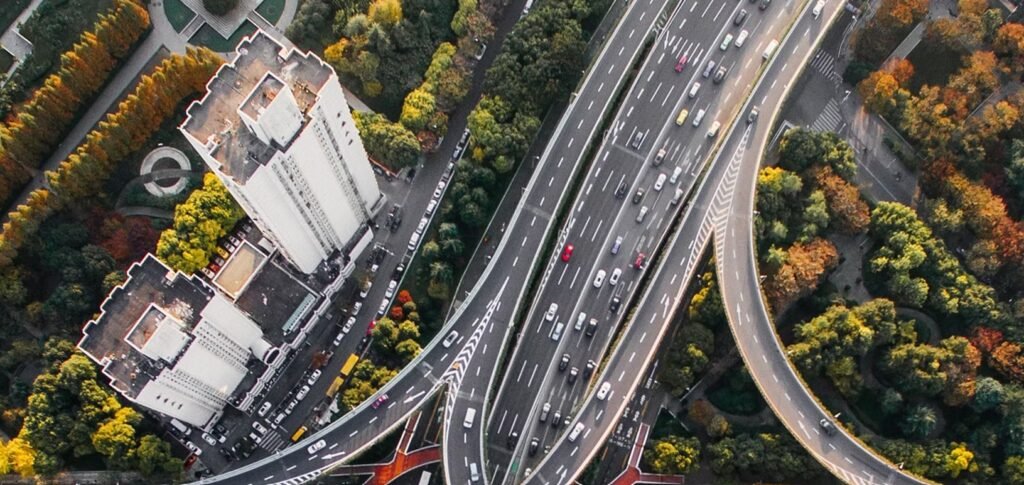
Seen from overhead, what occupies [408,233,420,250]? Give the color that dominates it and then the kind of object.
white vehicle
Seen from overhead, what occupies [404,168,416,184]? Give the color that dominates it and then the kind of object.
black vehicle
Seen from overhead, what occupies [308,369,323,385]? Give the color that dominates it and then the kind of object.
white car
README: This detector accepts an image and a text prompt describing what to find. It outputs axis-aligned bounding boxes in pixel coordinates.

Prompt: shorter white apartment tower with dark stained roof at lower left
[80,252,274,429]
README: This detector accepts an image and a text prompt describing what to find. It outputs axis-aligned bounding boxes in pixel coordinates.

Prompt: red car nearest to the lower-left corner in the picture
[184,453,197,469]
